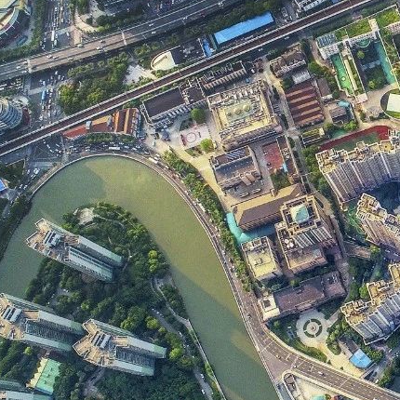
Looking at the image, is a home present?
Yes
